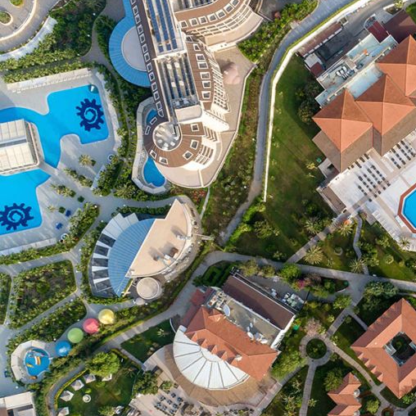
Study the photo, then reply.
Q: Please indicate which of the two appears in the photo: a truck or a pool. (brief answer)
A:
pool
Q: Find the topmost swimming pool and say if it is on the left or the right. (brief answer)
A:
left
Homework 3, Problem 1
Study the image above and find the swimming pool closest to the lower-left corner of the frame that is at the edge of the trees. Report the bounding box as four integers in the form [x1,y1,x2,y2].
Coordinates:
[23,346,52,376]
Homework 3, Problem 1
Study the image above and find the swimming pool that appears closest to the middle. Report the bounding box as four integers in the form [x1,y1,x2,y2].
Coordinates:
[142,155,166,188]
